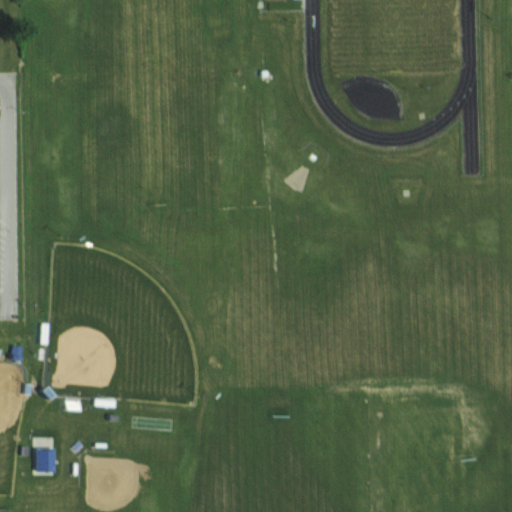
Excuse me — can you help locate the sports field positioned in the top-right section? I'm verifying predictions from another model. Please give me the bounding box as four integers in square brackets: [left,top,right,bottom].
[329,0,459,75]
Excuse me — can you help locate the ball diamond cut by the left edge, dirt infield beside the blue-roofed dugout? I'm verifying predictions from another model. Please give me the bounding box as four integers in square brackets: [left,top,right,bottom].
[0,363,26,495]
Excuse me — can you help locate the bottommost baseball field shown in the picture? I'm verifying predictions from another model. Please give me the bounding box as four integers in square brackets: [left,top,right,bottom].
[84,455,150,511]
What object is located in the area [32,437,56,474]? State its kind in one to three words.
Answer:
building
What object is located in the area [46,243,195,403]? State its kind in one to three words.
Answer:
baseball field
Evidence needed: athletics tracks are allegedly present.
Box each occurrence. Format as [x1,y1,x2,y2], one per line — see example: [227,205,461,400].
[304,0,480,174]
